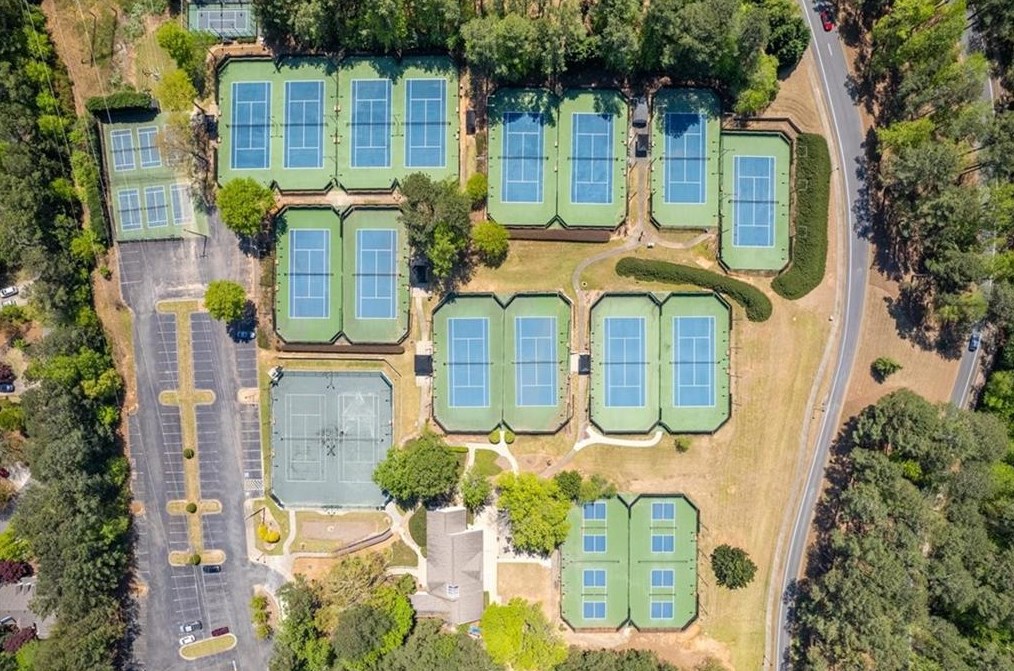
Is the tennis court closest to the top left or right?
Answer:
left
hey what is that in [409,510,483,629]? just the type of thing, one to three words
building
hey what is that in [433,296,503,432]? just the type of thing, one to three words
tennis court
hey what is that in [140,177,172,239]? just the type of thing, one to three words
tennis court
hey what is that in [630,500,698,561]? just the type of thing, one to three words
sports court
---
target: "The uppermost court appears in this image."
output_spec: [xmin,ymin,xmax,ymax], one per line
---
[189,3,255,37]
